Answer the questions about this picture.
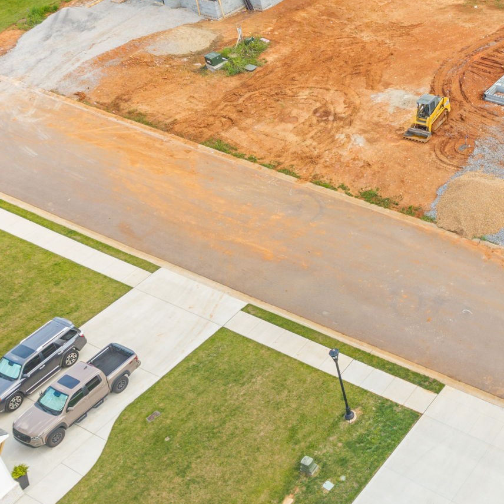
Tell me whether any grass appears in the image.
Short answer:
Yes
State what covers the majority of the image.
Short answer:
paved ground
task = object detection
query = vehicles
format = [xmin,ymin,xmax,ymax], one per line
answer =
[404,95,450,140]
[5,346,133,456]
[0,317,88,418]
